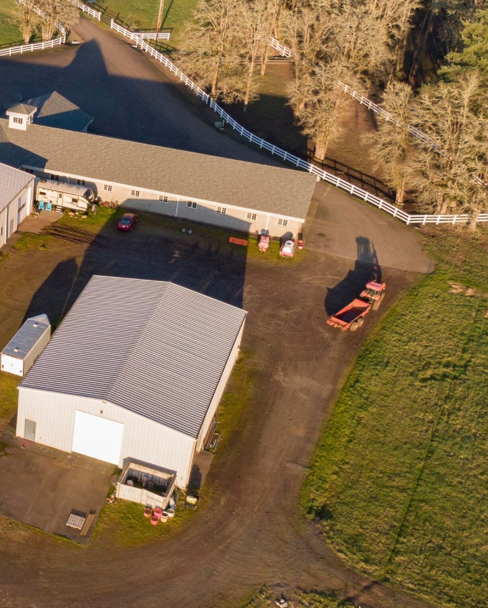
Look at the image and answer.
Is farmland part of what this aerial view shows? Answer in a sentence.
Yes, farmland can be seen from above here.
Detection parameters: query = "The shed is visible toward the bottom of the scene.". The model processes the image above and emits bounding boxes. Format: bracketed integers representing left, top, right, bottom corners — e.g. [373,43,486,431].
[14,275,249,487]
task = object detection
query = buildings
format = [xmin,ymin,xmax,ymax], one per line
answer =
[0,92,325,240]
[14,275,249,487]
